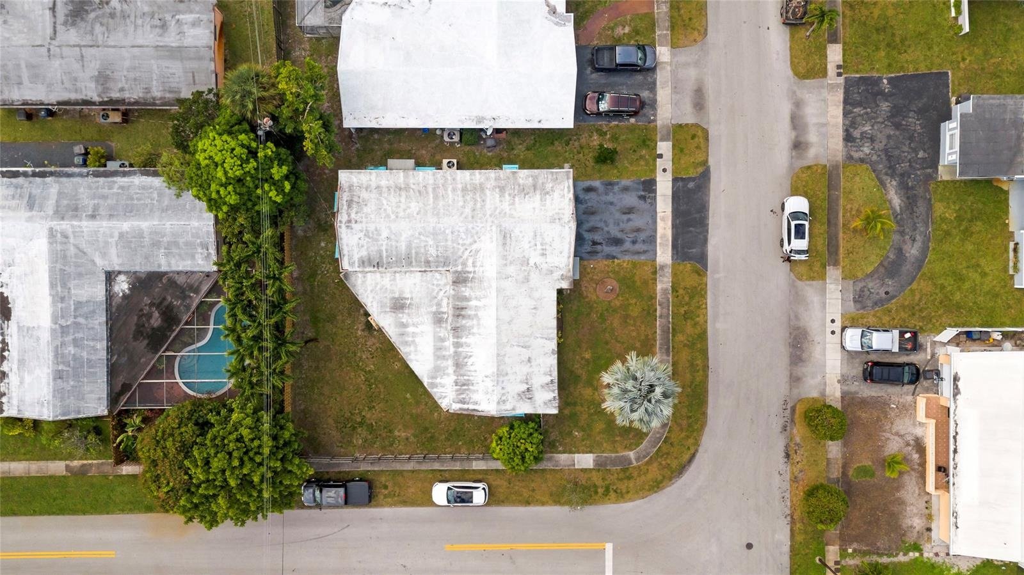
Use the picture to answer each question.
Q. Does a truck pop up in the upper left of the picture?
No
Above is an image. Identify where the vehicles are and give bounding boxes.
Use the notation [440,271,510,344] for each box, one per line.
[303,479,373,510]
[843,326,920,355]
[583,88,641,118]
[779,198,813,259]
[590,41,656,73]
[861,359,922,388]
[433,480,488,510]
[780,0,810,26]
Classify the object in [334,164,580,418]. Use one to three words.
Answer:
house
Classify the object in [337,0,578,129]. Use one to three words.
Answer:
house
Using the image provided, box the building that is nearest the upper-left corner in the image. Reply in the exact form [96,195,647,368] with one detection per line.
[0,0,239,108]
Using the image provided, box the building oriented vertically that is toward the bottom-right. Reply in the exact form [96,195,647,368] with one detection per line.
[918,348,1024,564]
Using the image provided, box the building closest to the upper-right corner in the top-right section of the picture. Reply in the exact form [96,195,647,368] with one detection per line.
[941,94,1024,181]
